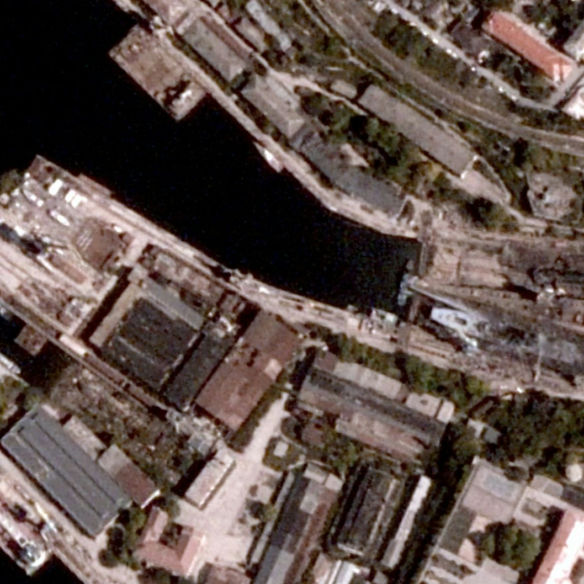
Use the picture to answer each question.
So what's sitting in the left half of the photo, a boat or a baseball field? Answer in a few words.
boat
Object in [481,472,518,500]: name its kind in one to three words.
sports court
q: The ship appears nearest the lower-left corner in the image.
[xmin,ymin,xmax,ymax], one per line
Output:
[0,499,51,576]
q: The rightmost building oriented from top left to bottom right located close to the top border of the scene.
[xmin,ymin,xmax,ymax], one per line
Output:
[485,11,576,82]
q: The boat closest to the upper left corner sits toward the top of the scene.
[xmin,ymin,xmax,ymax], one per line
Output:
[23,189,42,201]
